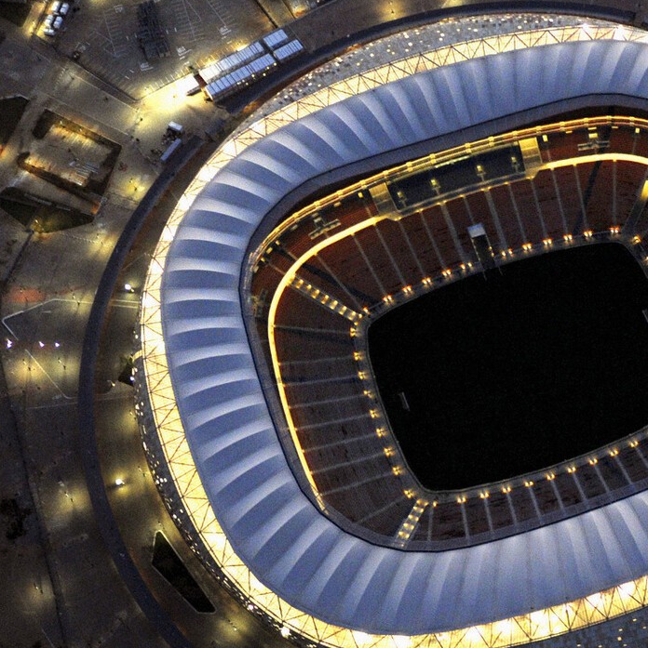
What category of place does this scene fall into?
sports ground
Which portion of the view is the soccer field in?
right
